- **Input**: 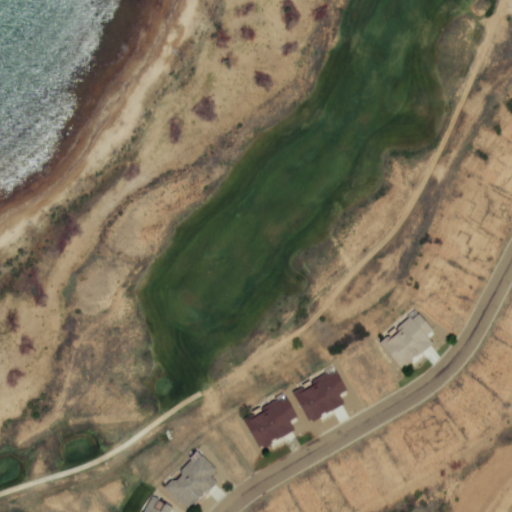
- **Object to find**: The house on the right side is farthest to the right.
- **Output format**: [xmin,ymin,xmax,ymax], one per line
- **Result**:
[381,312,434,368]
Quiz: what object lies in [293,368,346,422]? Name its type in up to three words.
house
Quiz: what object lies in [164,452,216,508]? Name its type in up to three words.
house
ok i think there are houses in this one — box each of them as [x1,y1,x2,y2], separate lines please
[142,496,175,512]
[293,368,346,422]
[244,396,298,450]
[381,312,434,368]
[164,452,216,508]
